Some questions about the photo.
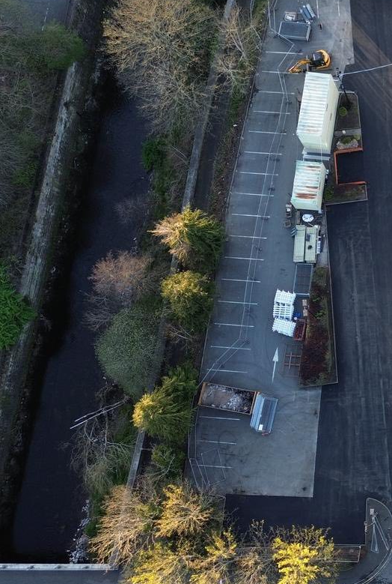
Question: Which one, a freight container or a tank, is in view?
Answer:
freight container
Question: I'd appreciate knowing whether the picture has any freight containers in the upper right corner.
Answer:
Yes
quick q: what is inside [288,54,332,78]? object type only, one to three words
work vehicle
